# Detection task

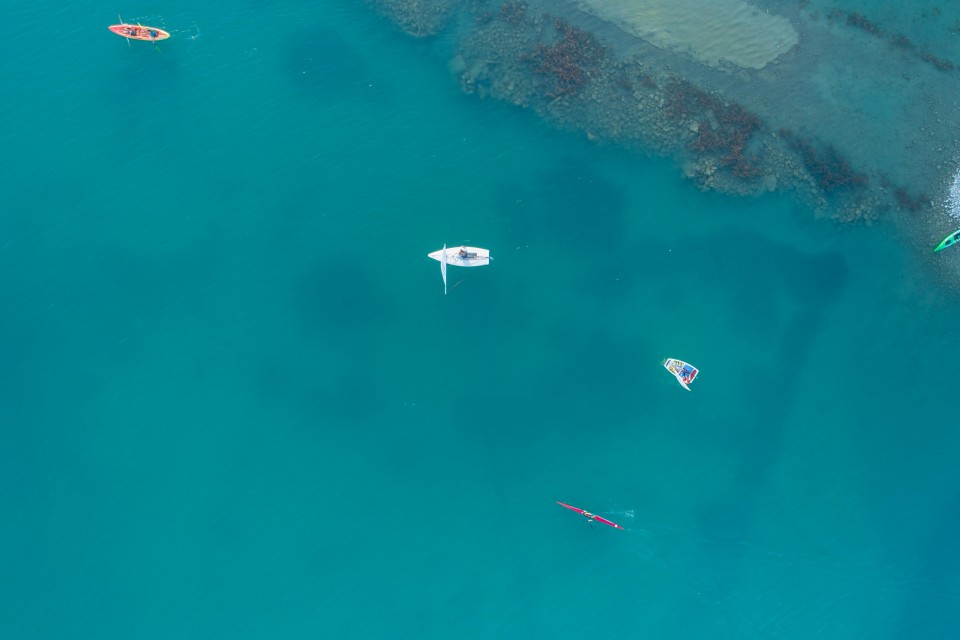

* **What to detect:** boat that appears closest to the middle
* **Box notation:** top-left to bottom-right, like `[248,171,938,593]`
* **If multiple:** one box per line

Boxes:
[428,245,495,295]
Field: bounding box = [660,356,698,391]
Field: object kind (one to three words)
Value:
boat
